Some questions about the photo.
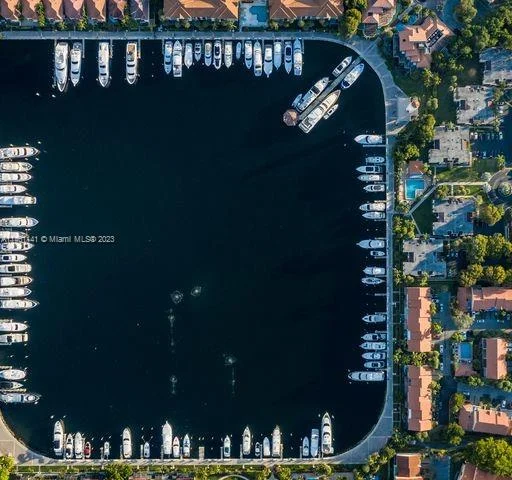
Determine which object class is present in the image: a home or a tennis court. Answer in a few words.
home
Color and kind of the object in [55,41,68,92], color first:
white boat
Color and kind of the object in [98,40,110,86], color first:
white boat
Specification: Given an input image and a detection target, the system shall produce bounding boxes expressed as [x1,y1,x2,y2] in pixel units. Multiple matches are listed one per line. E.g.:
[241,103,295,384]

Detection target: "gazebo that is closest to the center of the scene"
[284,108,298,124]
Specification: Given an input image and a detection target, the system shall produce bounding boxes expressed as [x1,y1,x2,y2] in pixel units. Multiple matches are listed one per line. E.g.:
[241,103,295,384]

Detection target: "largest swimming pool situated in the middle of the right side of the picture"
[405,179,424,199]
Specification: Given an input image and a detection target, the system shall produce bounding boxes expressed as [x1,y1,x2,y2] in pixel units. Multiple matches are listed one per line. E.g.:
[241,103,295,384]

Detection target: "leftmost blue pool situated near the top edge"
[252,6,267,22]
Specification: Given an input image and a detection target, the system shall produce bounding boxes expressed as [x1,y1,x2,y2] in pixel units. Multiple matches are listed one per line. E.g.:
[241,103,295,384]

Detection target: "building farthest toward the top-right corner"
[475,46,512,88]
